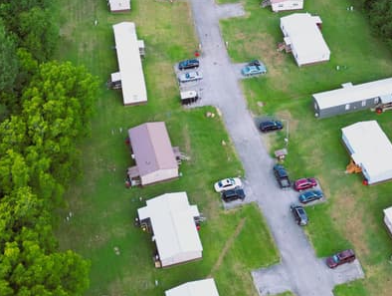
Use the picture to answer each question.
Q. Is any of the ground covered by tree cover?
Yes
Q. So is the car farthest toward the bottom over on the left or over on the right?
right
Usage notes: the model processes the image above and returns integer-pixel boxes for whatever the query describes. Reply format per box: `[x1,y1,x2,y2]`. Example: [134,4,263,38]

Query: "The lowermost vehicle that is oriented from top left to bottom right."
[287,200,309,228]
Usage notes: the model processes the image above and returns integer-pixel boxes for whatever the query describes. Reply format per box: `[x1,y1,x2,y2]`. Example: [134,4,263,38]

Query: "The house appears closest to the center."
[126,122,187,188]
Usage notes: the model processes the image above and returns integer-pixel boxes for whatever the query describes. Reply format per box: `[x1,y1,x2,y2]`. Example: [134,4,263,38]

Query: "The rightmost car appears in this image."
[326,248,356,269]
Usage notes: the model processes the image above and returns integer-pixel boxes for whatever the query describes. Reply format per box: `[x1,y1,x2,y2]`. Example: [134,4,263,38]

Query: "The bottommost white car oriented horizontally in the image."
[213,176,242,192]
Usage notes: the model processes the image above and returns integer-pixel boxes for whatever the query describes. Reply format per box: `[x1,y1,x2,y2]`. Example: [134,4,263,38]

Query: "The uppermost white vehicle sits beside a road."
[177,70,206,84]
